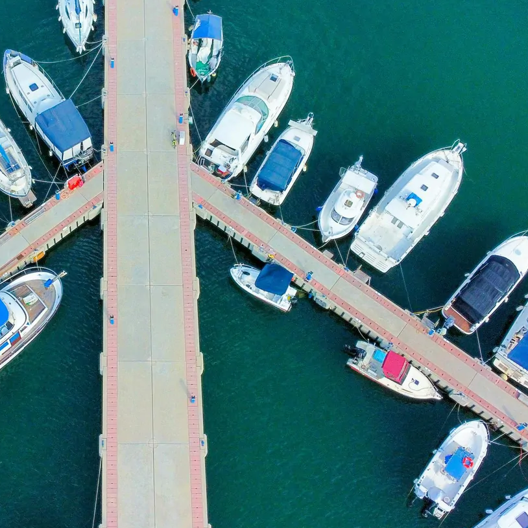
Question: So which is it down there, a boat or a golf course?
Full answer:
There is a boat in the scene.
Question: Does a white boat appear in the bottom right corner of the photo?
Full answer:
Yes, a white boat appears in the bottom right corner of the photo.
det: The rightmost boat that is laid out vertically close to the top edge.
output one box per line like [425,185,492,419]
[188,10,224,87]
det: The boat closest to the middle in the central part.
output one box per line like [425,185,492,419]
[229,263,309,315]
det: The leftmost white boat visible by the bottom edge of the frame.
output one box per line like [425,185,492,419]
[413,419,488,522]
